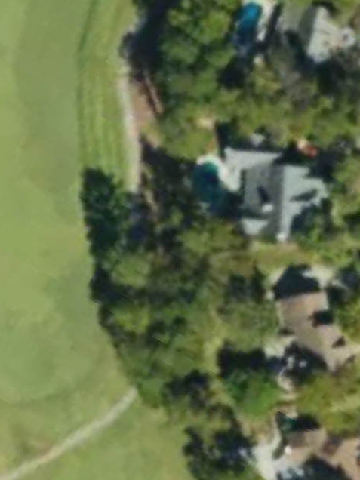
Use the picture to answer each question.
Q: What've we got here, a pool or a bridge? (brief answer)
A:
pool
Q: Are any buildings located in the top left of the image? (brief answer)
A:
No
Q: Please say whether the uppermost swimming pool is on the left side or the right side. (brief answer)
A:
right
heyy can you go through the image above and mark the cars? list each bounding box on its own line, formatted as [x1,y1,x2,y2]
[303,144,321,157]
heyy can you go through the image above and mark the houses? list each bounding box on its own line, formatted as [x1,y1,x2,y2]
[280,423,360,480]
[223,145,334,246]
[267,0,360,70]
[275,288,360,376]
